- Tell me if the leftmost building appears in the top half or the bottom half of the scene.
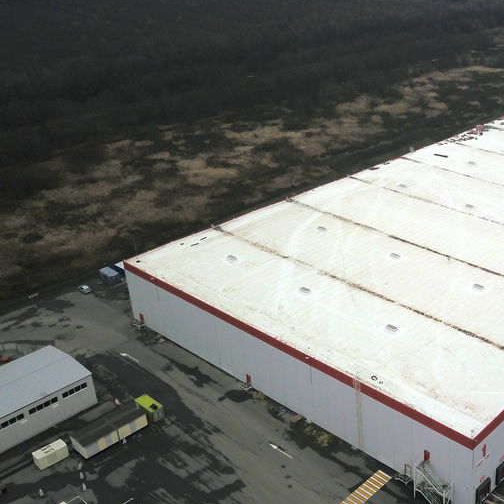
bottom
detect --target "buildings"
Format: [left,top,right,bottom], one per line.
[121,116,504,504]
[0,344,99,453]
[69,403,148,458]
